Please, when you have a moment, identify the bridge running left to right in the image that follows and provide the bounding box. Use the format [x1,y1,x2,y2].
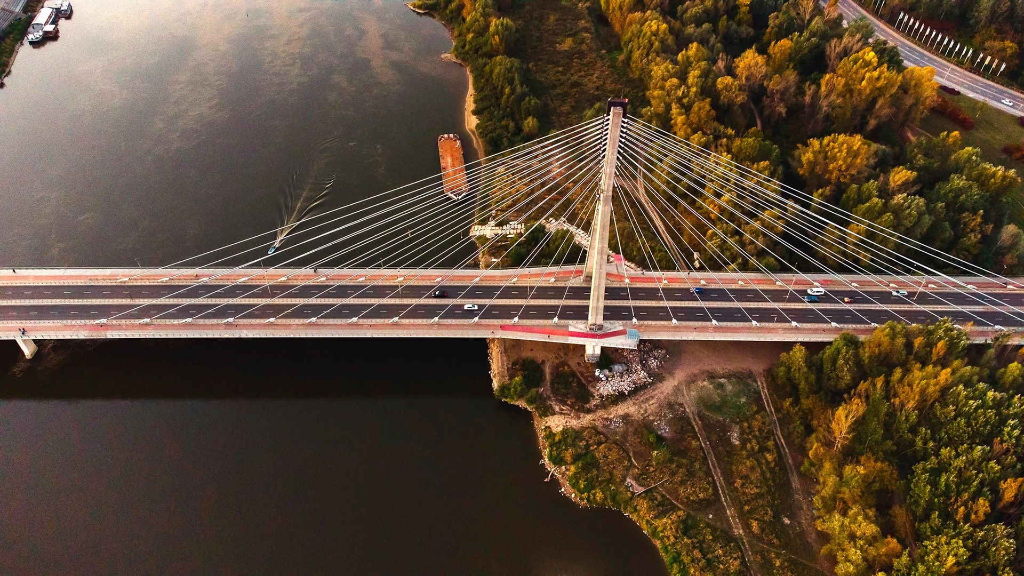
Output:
[0,93,1024,361]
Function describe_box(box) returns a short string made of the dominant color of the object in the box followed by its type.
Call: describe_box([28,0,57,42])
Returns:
white boat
